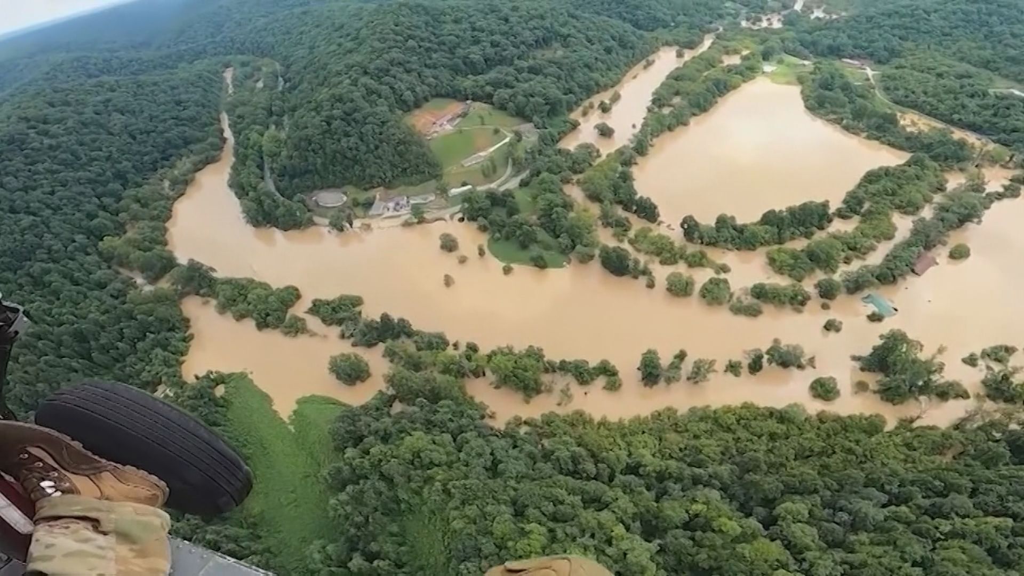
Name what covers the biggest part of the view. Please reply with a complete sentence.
Most of the picture is covered by trees.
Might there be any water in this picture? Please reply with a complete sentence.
Yes, the picture does contain water.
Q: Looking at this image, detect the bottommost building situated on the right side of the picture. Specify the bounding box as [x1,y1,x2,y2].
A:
[863,295,900,317]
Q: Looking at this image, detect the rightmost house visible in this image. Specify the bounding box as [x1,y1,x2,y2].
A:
[908,255,942,277]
